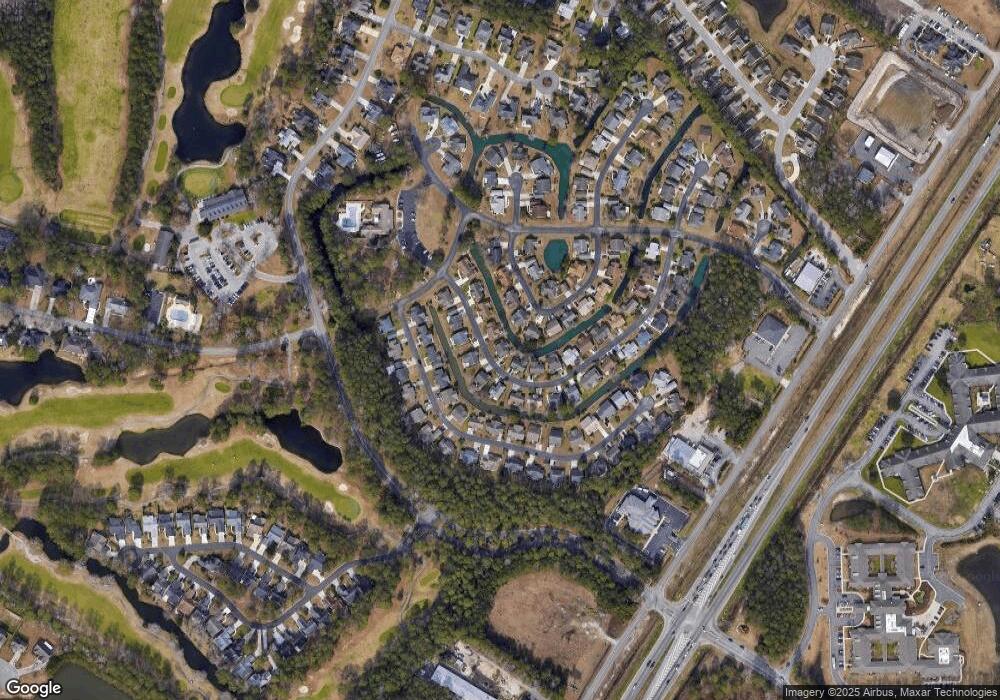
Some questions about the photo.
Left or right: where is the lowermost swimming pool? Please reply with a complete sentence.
It is on the left.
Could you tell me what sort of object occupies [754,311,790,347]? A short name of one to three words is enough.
building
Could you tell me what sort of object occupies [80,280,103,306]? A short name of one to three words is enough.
house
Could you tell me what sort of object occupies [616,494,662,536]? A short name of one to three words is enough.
building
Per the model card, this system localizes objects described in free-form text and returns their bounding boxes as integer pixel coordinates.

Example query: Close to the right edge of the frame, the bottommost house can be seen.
[849,541,962,674]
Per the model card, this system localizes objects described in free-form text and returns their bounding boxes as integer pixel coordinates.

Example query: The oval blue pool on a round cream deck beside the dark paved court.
[166,304,201,333]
